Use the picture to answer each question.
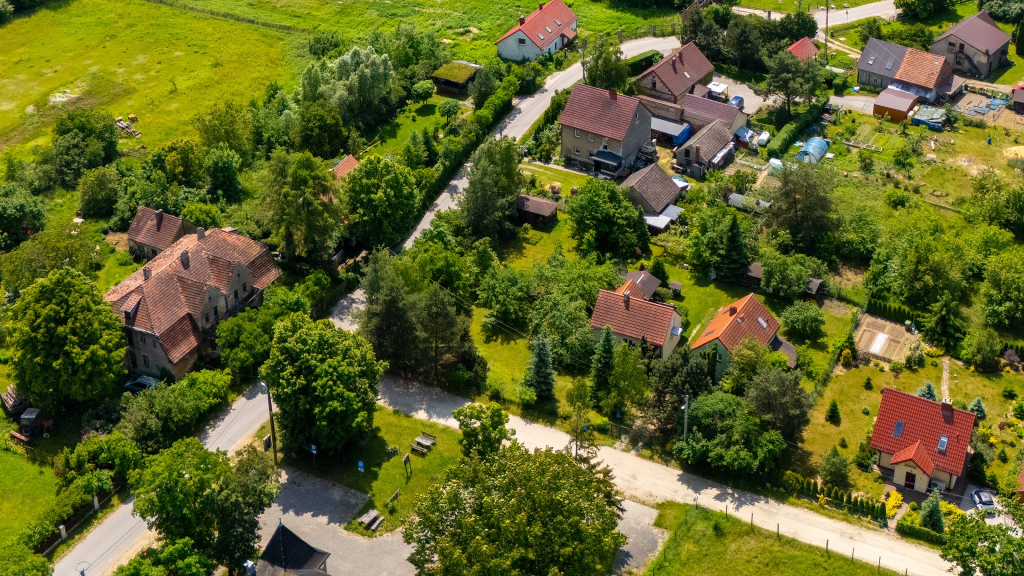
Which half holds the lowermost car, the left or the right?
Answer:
right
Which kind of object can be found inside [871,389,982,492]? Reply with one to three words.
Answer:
house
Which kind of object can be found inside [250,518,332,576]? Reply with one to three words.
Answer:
building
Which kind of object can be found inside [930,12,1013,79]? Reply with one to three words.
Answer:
barn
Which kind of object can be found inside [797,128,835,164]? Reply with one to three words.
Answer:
greenhouse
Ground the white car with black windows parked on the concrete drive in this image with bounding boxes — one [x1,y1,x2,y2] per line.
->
[967,484,1005,518]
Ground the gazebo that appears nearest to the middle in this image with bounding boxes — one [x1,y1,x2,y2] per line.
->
[517,195,558,231]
